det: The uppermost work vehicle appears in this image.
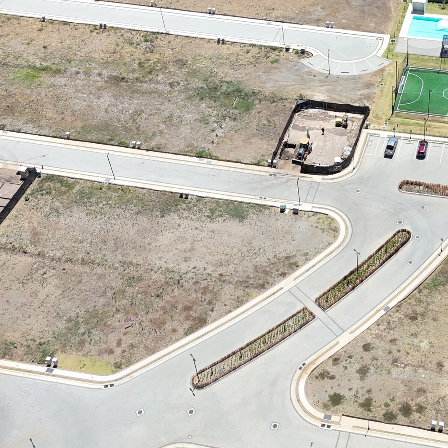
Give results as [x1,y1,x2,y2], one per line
[332,112,351,128]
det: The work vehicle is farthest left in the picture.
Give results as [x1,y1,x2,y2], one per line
[291,139,315,168]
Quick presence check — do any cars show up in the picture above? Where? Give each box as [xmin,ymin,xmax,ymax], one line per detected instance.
[383,138,396,157]
[415,141,427,158]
